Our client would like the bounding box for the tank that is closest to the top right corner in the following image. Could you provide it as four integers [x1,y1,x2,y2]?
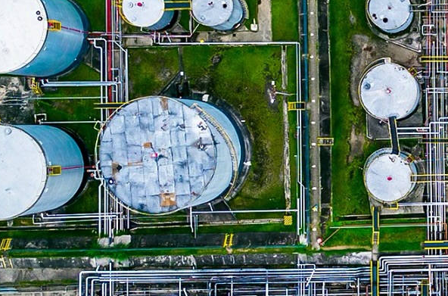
[364,0,417,38]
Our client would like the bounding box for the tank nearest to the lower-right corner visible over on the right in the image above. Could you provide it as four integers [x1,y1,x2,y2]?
[361,147,416,208]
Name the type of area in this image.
industrial area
